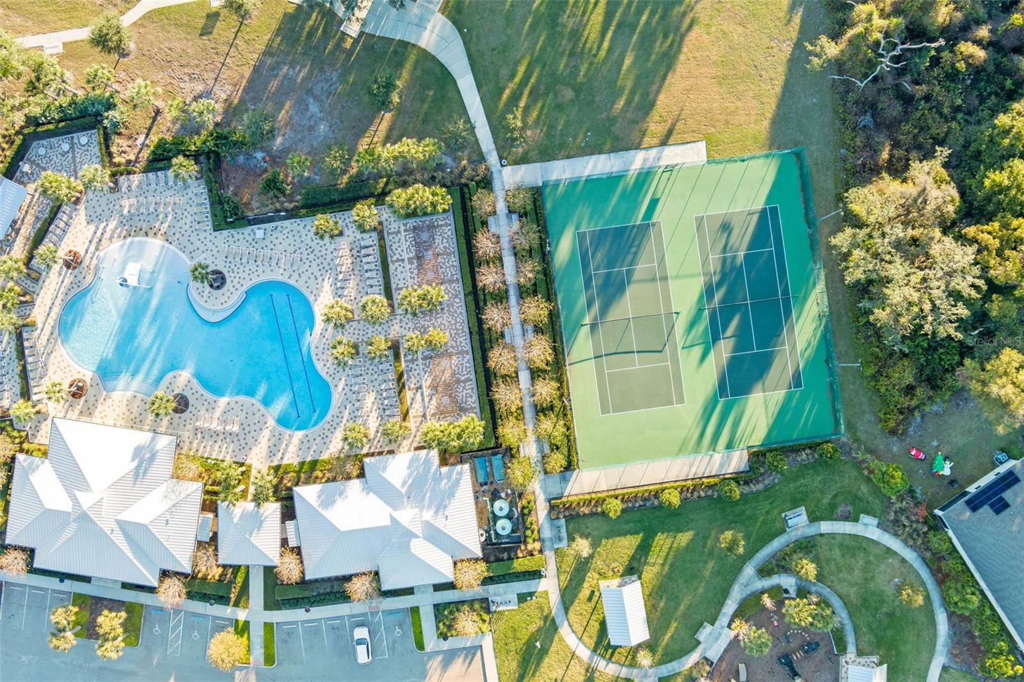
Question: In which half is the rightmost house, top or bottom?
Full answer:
It is in the bottom half that the rightmost house appears.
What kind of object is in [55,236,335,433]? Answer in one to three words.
swimming pool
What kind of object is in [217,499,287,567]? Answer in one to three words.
building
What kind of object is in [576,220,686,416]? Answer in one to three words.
tennis court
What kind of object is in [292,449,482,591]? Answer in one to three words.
building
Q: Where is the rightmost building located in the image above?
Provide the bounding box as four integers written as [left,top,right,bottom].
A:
[931,447,1024,654]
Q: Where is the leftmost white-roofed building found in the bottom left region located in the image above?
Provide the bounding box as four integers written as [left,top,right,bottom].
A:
[5,417,207,587]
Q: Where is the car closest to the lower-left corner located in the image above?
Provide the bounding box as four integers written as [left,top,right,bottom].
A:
[352,627,372,664]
